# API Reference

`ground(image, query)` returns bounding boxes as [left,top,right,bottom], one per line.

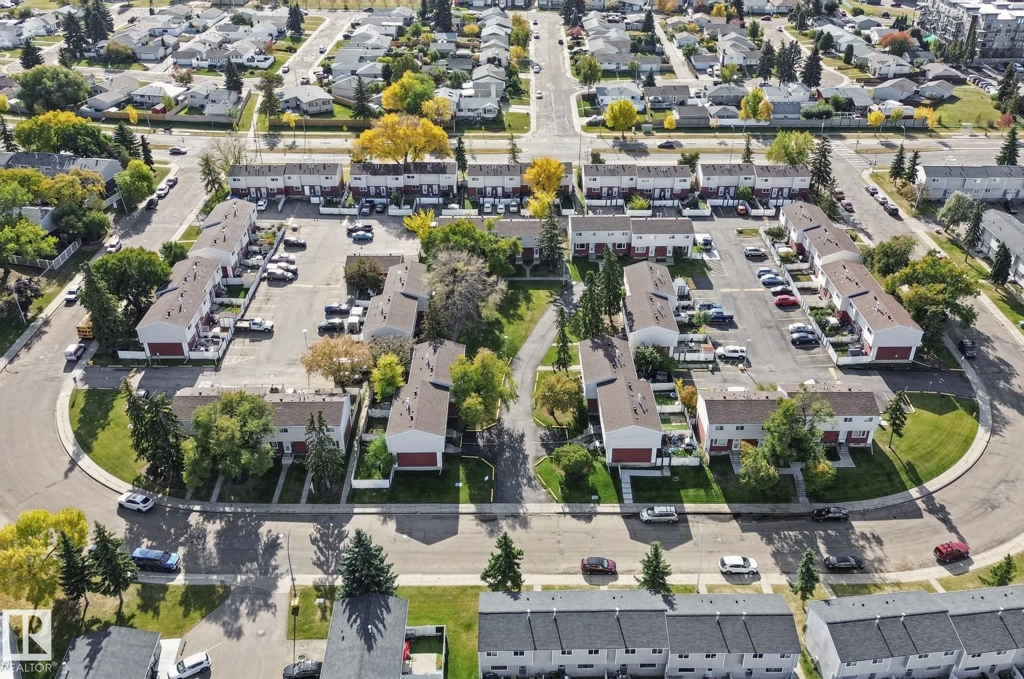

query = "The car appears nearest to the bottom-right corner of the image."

[932,543,975,565]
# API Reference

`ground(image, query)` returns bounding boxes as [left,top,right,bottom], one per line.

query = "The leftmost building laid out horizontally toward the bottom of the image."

[60,633,166,679]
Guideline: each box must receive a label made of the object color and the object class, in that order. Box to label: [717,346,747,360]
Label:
white car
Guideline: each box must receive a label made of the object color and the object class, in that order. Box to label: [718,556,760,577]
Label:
white car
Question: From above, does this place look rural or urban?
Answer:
urban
